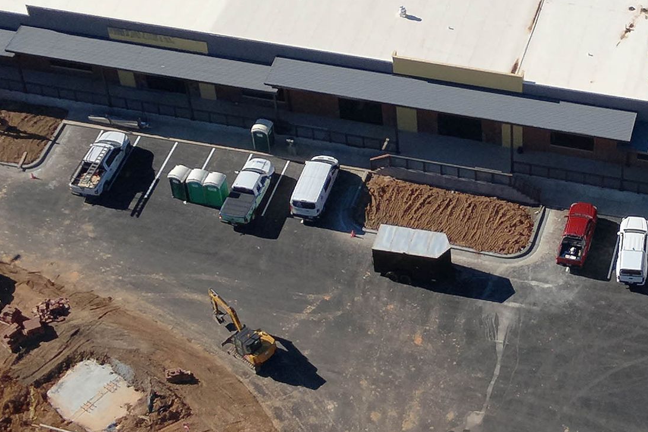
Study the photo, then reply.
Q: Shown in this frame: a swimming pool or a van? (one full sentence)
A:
Visible in the photo is a van.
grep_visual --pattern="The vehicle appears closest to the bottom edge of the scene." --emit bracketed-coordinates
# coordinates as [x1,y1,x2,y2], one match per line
[213,281,283,384]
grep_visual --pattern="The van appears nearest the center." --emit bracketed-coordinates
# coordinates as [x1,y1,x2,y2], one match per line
[292,159,341,219]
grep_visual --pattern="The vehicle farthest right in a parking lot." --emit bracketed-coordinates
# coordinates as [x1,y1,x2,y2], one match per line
[616,217,648,288]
